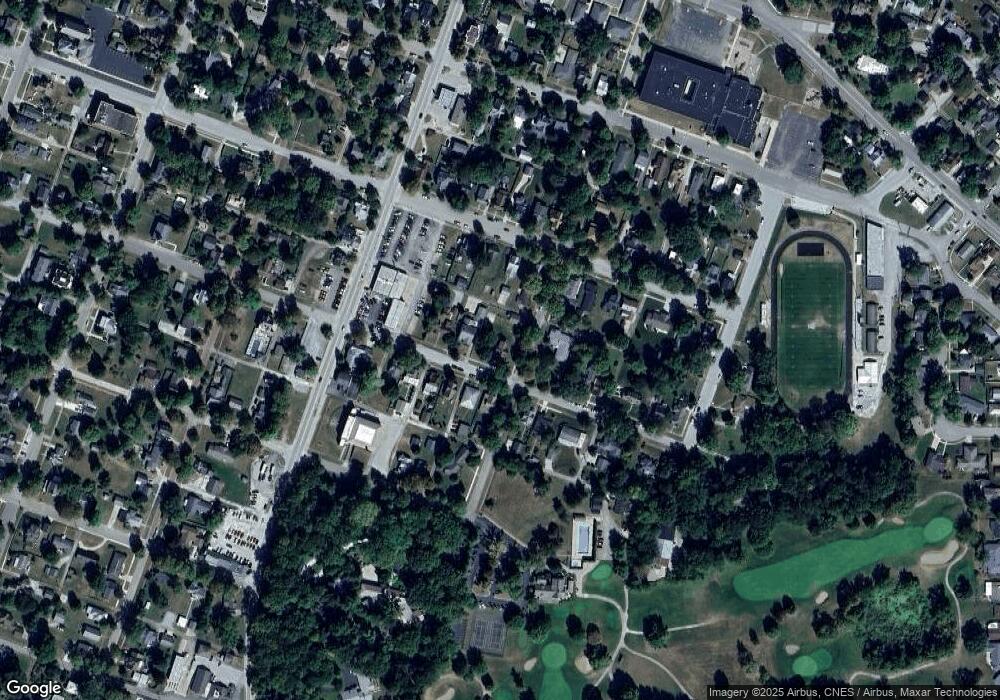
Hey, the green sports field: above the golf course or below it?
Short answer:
above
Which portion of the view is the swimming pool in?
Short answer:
bottom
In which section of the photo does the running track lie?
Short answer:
right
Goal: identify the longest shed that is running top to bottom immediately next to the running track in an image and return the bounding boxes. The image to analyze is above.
[867,222,884,276]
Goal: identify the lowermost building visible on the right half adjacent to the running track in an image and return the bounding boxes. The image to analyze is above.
[858,361,878,383]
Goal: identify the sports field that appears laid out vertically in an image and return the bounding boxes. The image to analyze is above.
[778,261,848,400]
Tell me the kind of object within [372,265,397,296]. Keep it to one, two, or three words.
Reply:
building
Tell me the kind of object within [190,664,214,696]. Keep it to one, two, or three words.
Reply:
house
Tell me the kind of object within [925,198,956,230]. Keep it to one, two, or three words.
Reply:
barn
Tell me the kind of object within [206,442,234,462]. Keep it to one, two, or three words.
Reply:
house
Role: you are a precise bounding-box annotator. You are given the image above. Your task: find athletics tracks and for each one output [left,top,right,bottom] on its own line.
[771,229,853,413]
